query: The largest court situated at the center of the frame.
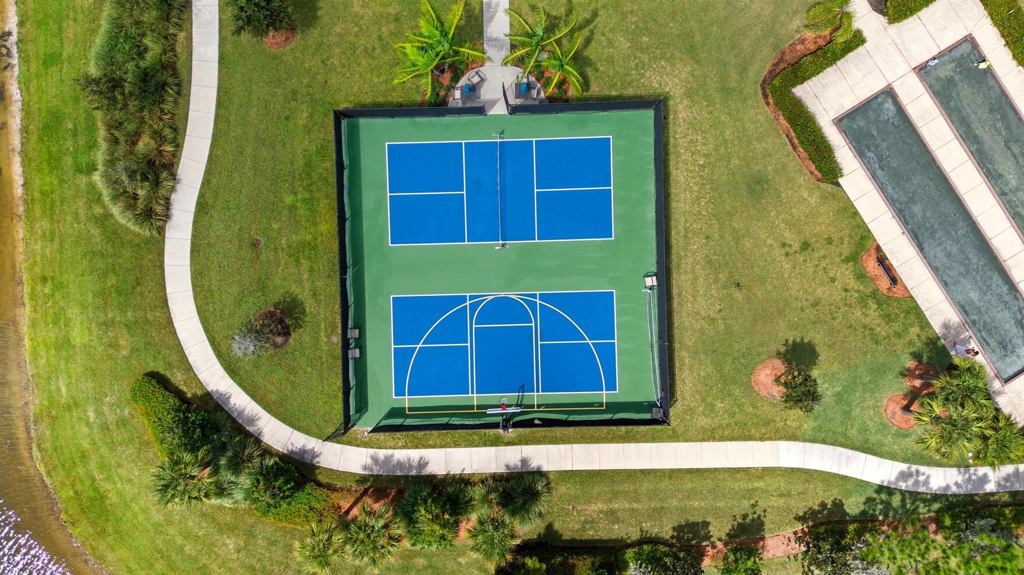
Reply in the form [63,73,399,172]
[342,109,662,430]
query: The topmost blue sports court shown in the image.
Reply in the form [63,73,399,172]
[386,136,614,246]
